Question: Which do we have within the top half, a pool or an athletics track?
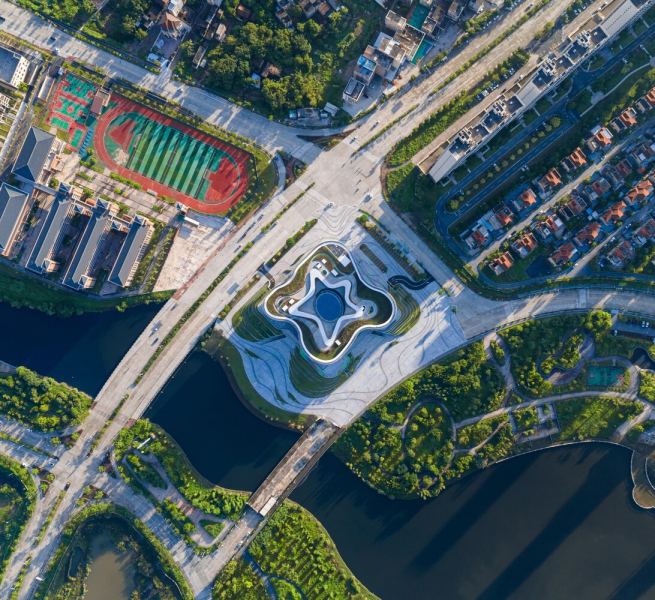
athletics track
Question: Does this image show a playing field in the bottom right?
No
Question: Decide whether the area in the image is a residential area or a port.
residential area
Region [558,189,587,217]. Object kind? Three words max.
house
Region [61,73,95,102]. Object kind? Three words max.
basketball court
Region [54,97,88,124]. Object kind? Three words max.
basketball court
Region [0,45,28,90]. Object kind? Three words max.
building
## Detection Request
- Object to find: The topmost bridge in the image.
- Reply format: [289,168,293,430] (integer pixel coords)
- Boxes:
[102,306,201,413]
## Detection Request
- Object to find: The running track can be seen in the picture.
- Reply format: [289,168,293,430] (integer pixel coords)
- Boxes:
[96,90,255,212]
